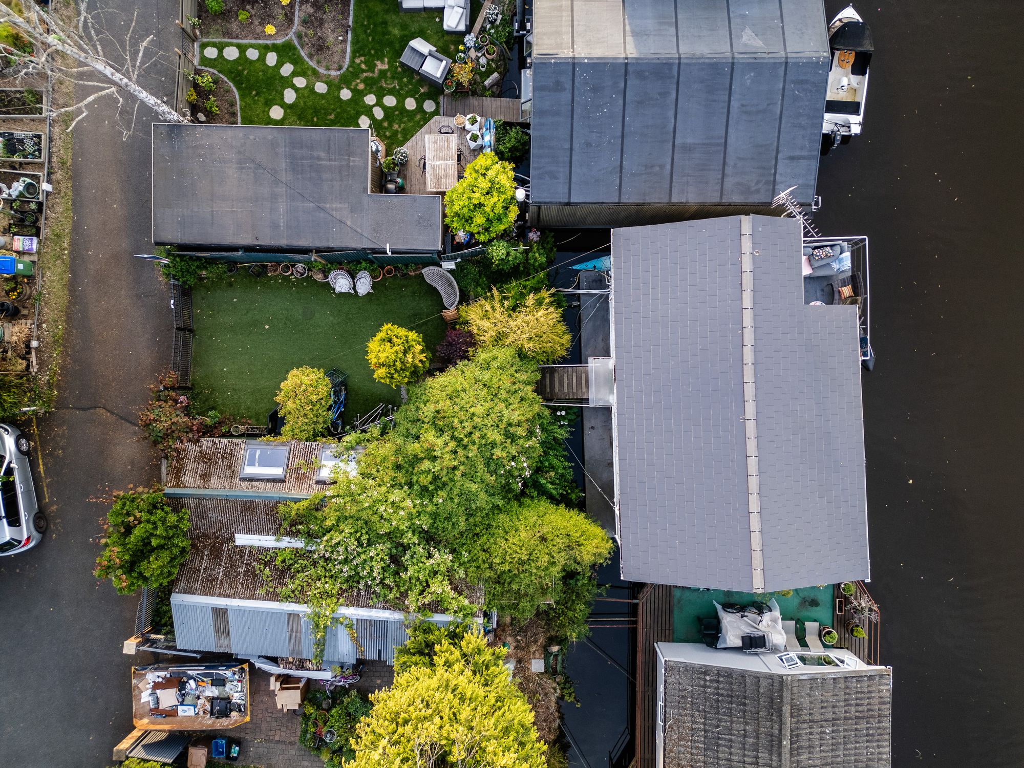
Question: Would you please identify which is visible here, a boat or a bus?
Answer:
boat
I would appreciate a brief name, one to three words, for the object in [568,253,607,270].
boat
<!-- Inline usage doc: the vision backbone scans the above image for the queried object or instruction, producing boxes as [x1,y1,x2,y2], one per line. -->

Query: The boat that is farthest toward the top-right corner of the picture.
[823,2,876,149]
